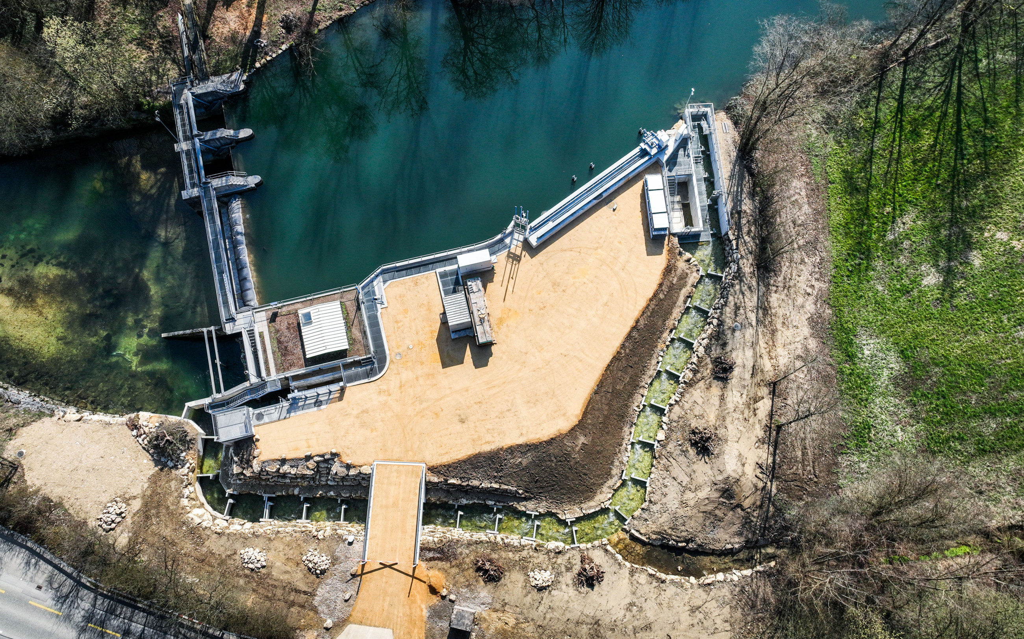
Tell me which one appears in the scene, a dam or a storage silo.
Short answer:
dam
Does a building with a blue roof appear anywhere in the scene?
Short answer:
No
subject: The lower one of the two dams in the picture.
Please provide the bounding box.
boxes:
[221,203,260,309]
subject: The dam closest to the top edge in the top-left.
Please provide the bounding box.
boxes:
[172,67,267,206]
